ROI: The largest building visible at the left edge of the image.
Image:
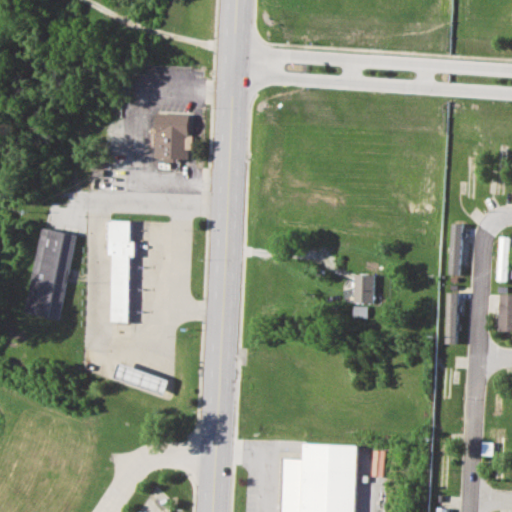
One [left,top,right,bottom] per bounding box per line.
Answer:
[23,230,74,322]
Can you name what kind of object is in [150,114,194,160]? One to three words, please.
building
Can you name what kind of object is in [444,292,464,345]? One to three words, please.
house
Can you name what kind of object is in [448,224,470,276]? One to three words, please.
house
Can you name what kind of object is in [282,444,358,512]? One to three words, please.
building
